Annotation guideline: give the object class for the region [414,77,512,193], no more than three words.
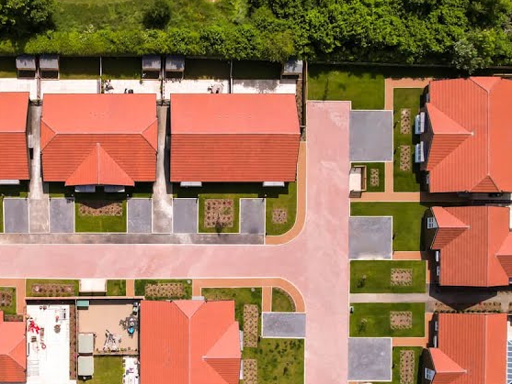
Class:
house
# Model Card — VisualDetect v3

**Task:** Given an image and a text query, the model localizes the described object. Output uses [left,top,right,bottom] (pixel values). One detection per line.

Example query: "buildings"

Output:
[0,92,31,183]
[78,355,94,376]
[78,332,94,353]
[425,205,512,285]
[140,297,246,384]
[414,77,512,193]
[170,92,302,186]
[40,93,157,193]
[39,55,60,73]
[0,311,29,383]
[165,55,185,73]
[422,313,507,384]
[351,164,370,191]
[15,55,37,73]
[142,55,162,73]
[281,61,303,78]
